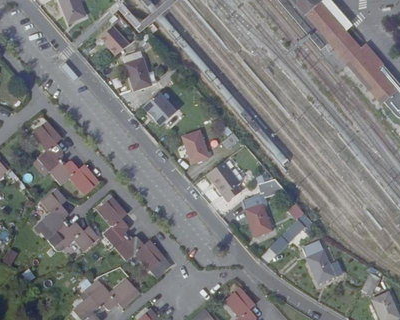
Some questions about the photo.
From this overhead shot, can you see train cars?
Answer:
Yes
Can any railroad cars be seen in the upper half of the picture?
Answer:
Yes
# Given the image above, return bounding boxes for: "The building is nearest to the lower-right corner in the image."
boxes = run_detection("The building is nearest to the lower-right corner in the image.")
[370,291,400,320]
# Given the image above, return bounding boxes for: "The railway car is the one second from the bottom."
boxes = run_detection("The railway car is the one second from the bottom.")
[213,80,252,124]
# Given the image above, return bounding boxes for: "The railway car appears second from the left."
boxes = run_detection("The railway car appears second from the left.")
[176,37,218,84]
